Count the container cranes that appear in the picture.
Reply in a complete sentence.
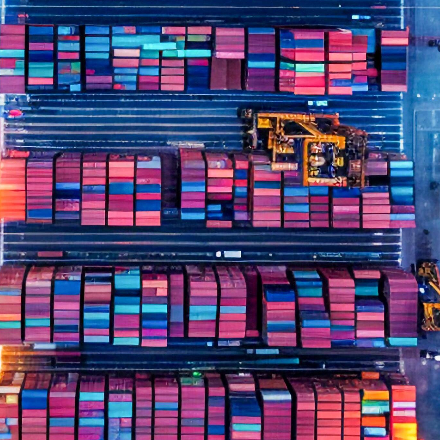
There is 1 container crane in the image.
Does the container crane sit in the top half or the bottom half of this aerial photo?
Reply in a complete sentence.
It is in the top half that the container crane appears.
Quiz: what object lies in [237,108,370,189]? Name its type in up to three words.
container crane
